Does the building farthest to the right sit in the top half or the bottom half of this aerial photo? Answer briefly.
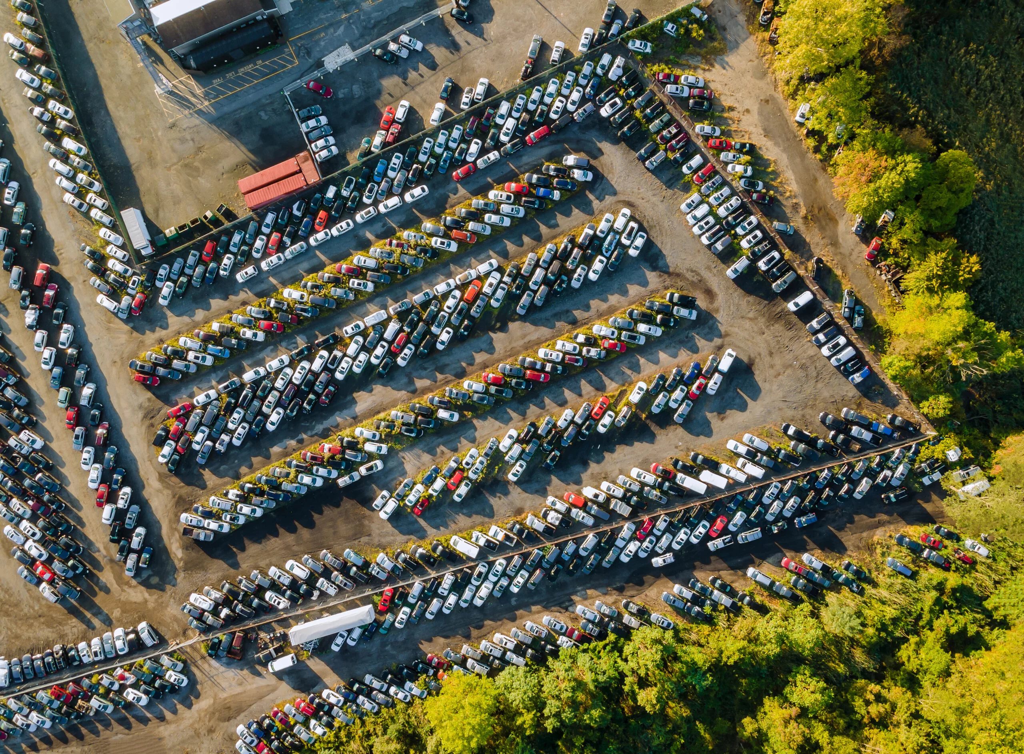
top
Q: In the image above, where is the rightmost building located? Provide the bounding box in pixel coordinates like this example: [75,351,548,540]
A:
[146,0,287,80]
